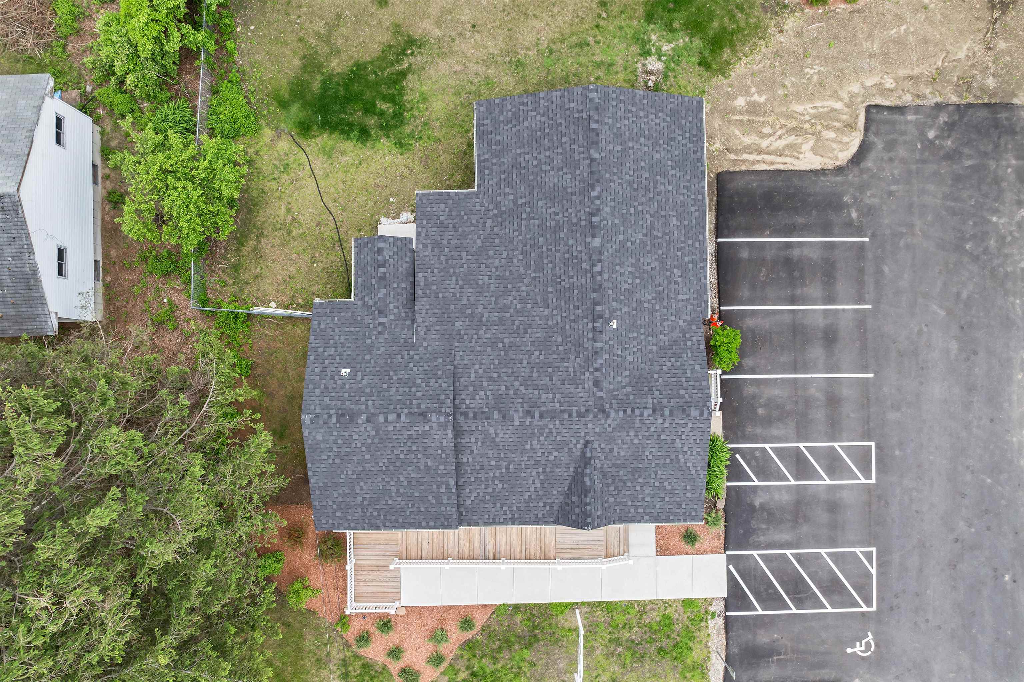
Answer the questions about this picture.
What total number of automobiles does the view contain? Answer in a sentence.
I count no automobiles.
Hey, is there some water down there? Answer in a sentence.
No, water can't be seen anywhere here.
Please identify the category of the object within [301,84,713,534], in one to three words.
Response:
house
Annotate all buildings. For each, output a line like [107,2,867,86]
[301,84,713,534]
[0,74,105,337]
